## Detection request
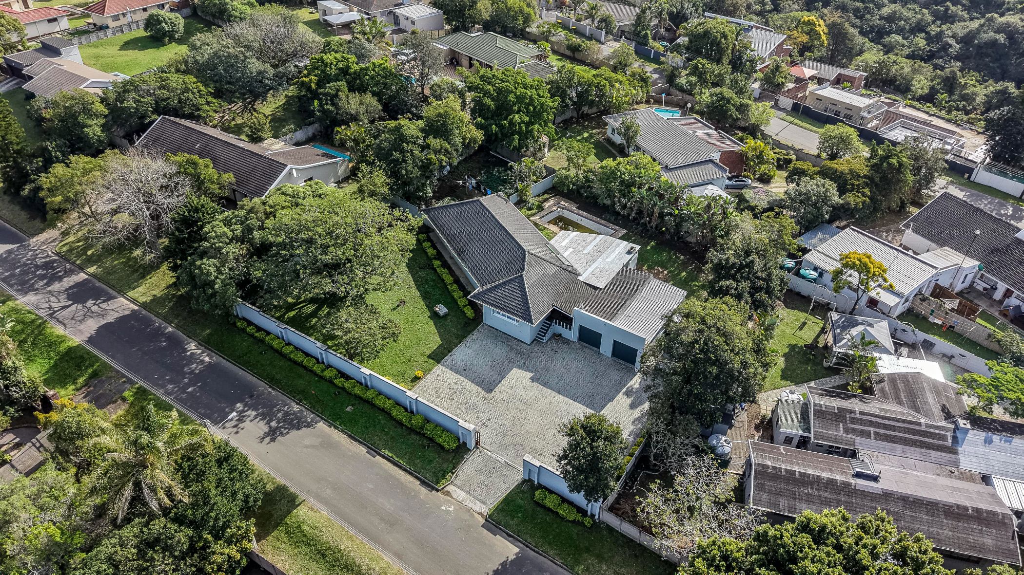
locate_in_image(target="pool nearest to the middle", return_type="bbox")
[536,194,627,241]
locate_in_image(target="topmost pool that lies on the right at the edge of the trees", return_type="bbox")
[648,105,684,119]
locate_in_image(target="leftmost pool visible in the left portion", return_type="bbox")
[307,139,356,165]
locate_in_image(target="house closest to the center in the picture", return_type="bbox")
[421,187,686,373]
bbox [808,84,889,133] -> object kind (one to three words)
house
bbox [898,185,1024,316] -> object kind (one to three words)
house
